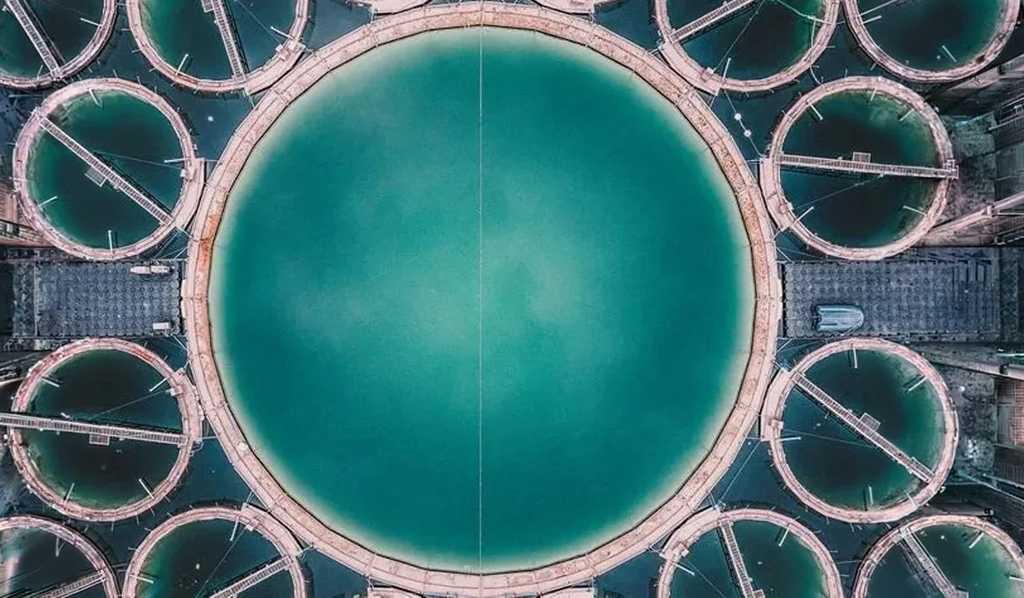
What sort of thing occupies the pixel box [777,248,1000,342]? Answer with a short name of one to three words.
pier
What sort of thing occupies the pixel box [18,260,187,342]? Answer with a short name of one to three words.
pier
